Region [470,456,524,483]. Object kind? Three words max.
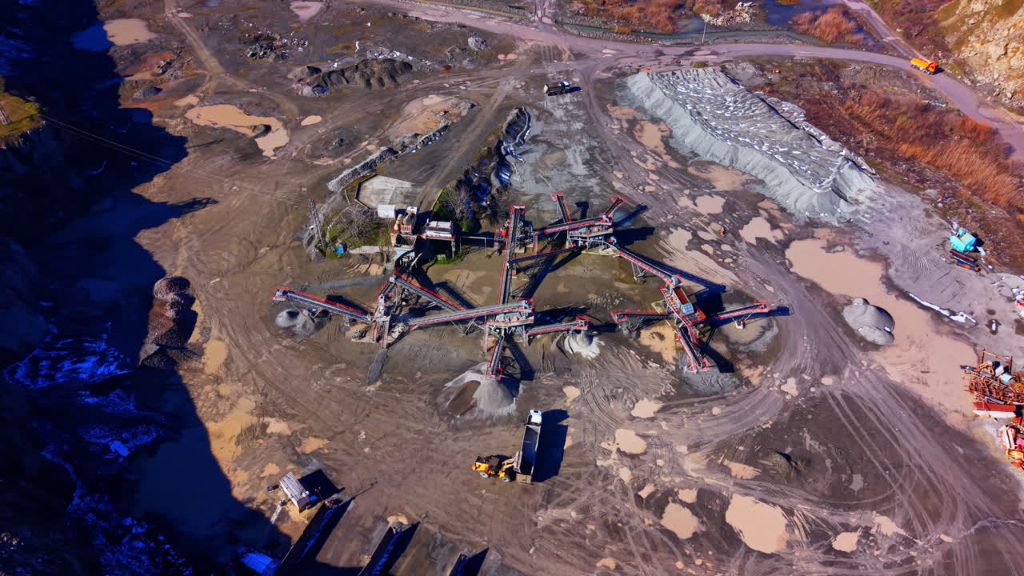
work vehicle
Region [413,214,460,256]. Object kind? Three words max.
building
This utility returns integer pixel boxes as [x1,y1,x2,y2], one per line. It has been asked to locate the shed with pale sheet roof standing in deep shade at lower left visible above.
[238,544,281,576]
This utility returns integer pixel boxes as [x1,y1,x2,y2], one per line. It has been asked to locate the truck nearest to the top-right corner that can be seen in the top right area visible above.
[911,56,940,77]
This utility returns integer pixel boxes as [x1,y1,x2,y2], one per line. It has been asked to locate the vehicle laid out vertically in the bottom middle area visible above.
[515,411,543,482]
